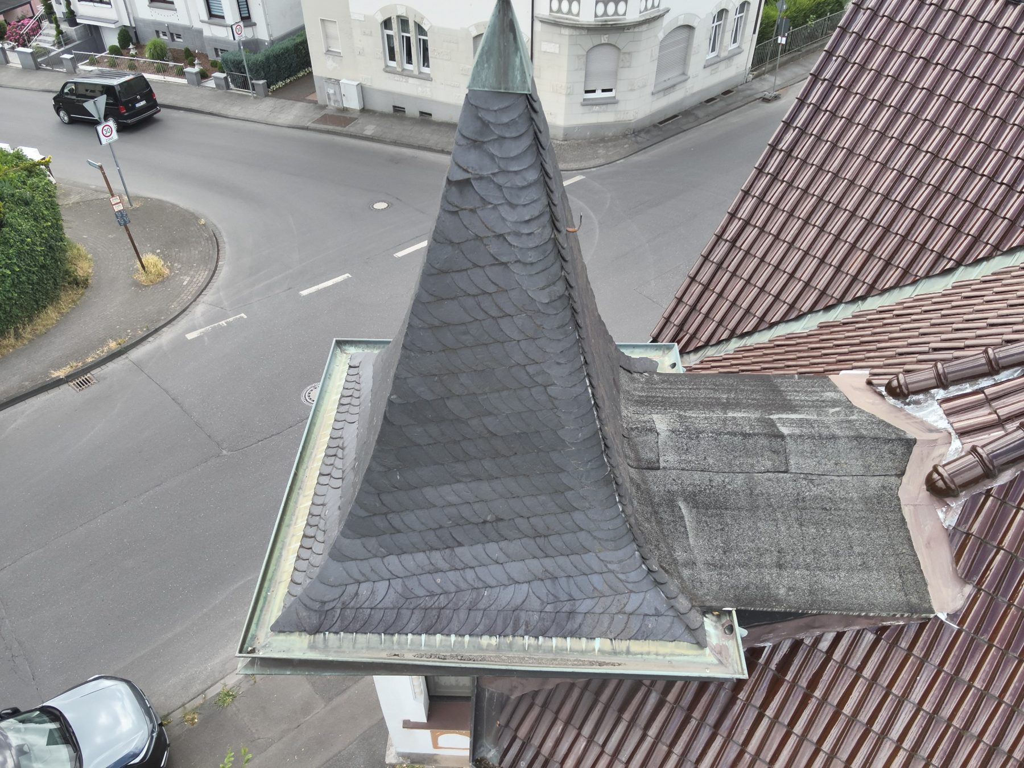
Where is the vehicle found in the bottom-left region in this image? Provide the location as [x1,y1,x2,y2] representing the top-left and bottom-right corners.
[0,664,171,768]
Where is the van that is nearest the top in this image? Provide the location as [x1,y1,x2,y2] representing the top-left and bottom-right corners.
[56,66,160,132]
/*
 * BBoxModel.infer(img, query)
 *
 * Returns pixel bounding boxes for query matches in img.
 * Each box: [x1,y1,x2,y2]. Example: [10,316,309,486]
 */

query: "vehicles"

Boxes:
[56,66,160,132]
[0,664,171,768]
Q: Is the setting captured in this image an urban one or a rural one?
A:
urban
